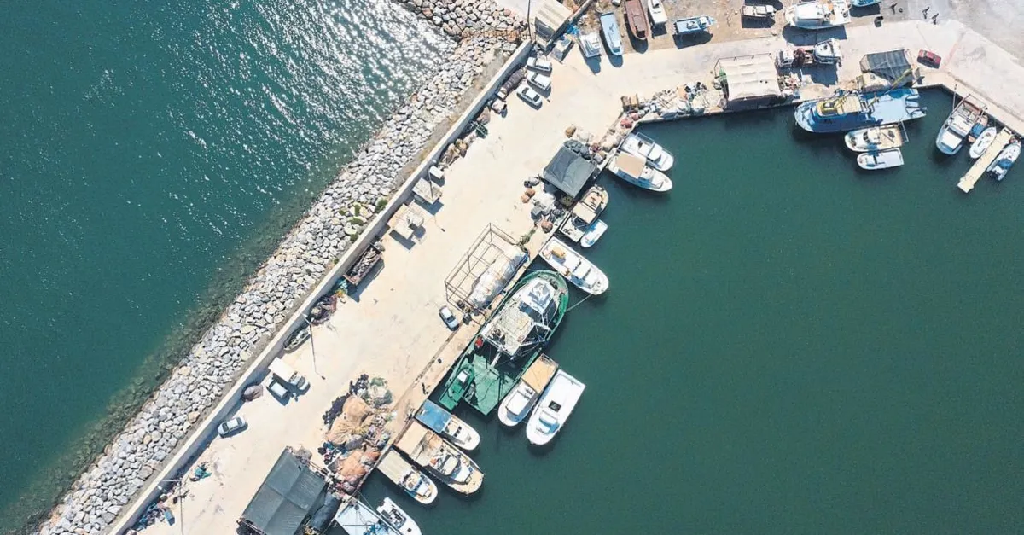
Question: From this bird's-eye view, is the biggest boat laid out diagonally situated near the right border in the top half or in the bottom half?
top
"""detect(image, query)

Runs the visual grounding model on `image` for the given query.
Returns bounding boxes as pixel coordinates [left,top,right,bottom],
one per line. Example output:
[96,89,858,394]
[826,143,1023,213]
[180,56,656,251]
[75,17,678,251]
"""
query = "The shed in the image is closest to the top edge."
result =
[532,0,576,48]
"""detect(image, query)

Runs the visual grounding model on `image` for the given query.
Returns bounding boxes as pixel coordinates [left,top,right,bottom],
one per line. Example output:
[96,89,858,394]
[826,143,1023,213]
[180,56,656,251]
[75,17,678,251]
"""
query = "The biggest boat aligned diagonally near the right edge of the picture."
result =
[938,90,997,156]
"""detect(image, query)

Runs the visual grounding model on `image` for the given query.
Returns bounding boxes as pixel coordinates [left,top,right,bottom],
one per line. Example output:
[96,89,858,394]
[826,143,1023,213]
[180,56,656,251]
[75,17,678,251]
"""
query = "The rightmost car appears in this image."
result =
[919,50,944,68]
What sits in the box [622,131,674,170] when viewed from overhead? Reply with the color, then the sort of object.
white boat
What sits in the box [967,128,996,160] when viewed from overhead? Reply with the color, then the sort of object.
white boat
